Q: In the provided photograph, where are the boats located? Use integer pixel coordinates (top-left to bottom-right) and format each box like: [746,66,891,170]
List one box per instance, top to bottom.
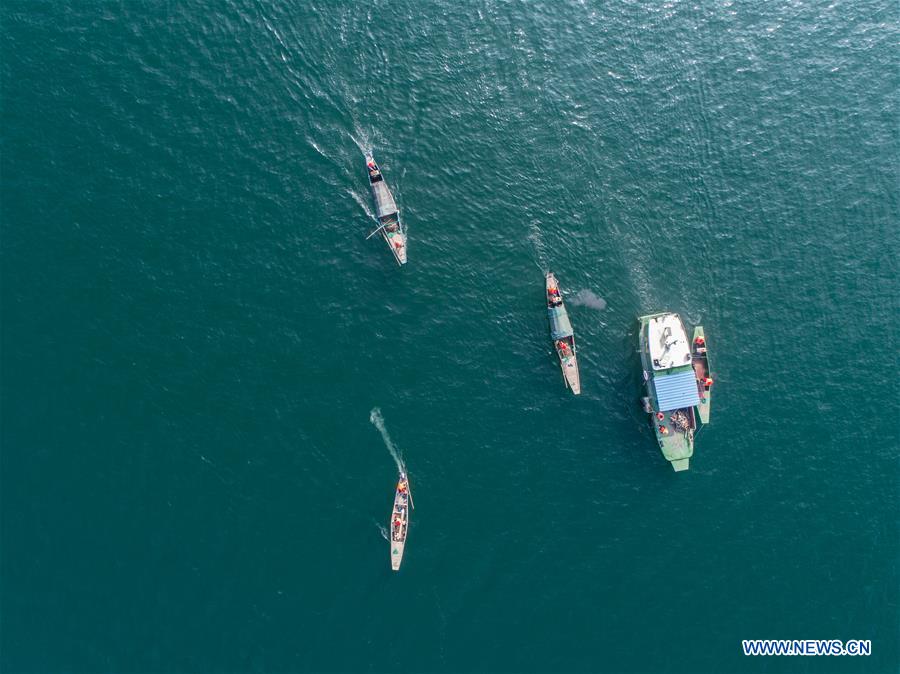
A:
[365,145,406,265]
[546,263,580,395]
[638,312,700,472]
[693,326,712,424]
[390,464,409,572]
